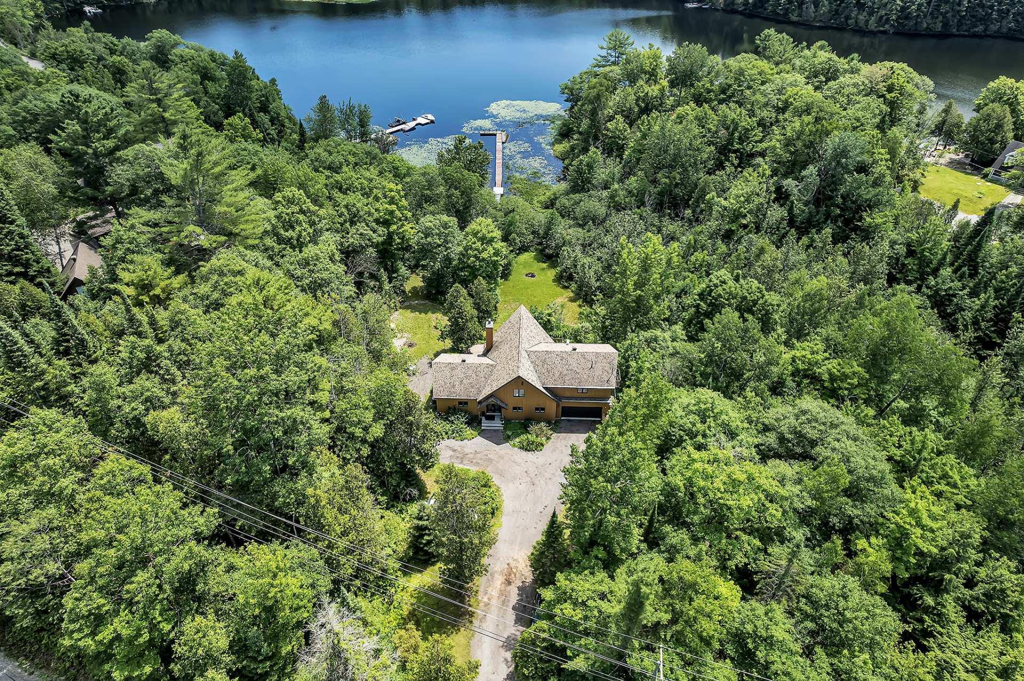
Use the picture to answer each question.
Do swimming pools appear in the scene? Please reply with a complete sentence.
No, the scene contains no swimming pool.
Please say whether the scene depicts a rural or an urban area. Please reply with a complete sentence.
From above, the setting appears rural.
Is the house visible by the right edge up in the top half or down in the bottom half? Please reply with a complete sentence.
It is in the top half that the house visible by the right edge appears.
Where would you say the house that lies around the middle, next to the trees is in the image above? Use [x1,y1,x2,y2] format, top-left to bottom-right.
[432,305,625,431]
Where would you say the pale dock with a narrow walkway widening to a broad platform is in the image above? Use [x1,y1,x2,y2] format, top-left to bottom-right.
[373,113,435,137]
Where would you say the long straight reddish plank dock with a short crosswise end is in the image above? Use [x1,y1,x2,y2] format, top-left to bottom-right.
[481,129,505,187]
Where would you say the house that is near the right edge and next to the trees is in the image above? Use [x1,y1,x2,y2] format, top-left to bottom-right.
[984,139,1024,197]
